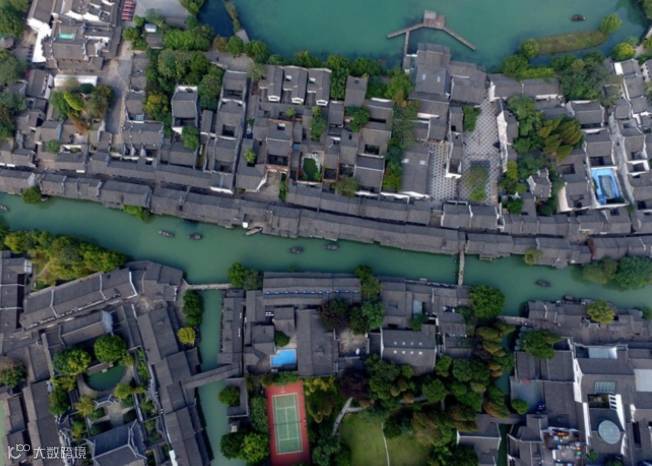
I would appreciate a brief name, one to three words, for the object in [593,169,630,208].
swimming pool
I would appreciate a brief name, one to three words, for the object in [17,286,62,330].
house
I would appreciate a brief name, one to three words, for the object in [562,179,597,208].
house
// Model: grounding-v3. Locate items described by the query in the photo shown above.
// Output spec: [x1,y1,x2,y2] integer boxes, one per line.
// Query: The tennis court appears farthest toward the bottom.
[266,381,307,466]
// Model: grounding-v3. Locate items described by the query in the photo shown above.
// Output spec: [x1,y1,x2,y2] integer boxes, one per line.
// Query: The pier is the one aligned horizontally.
[386,11,476,53]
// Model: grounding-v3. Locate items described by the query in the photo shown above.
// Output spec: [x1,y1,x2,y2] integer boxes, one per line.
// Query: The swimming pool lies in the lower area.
[270,347,297,371]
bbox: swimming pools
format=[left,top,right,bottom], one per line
[270,347,297,371]
[593,169,630,208]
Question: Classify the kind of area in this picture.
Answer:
residential area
